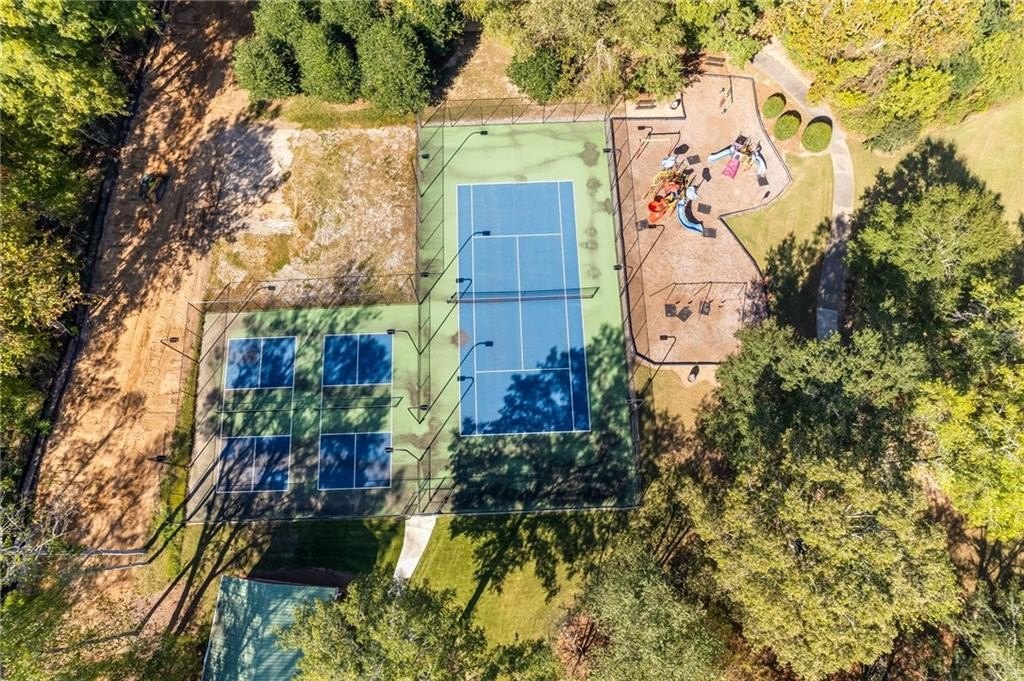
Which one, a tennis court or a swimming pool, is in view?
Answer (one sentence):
It is a tennis court that can be seen here.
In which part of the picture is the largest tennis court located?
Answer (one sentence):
The largest tennis court is located in the center region of the scene.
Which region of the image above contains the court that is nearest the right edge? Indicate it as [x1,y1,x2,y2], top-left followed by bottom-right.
[420,120,640,514]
